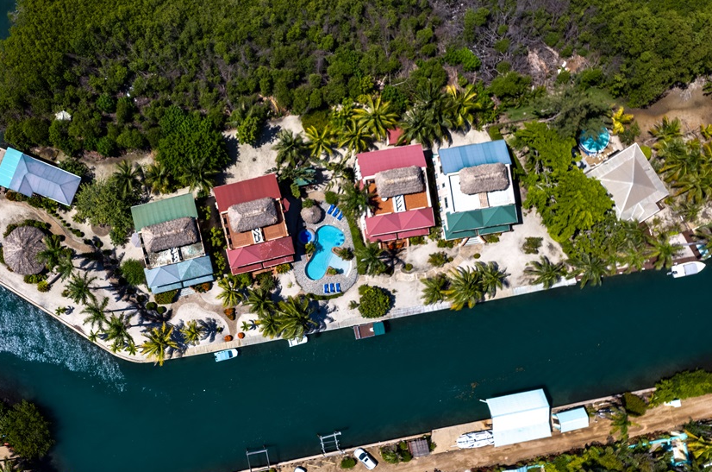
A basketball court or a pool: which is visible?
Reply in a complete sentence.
Visible in the photo is a pool.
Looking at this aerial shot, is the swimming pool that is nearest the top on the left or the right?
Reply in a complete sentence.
You can find the swimming pool that is nearest the top on the right side of the picture.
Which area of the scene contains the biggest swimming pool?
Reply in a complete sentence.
You can find the biggest swimming pool in the center area of the picture.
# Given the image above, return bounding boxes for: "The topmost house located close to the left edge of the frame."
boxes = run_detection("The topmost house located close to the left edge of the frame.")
[0,148,81,205]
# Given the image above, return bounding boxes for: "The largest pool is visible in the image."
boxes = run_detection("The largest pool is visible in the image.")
[293,201,358,296]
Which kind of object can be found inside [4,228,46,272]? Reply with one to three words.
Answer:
shed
